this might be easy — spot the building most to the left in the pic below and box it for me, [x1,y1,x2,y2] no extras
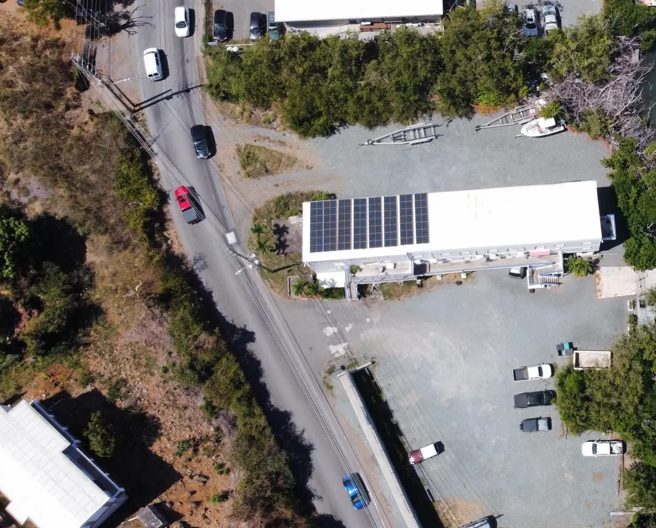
[0,397,138,528]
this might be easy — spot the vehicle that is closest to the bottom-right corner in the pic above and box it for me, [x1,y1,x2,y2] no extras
[580,439,624,458]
